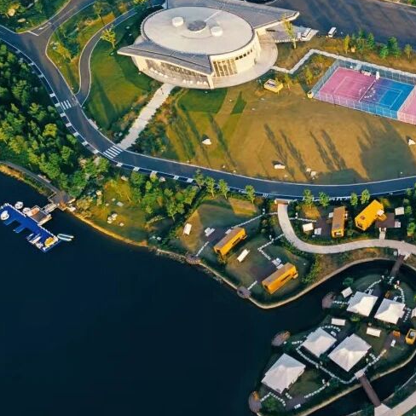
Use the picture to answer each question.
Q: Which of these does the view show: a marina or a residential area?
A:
marina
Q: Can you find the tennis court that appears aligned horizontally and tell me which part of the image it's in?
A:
top right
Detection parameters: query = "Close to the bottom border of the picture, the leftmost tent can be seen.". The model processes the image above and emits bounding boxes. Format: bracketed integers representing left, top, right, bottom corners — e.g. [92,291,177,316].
[262,354,307,400]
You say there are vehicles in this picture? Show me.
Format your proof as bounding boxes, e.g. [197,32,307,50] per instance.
[328,25,336,37]
[299,25,311,37]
